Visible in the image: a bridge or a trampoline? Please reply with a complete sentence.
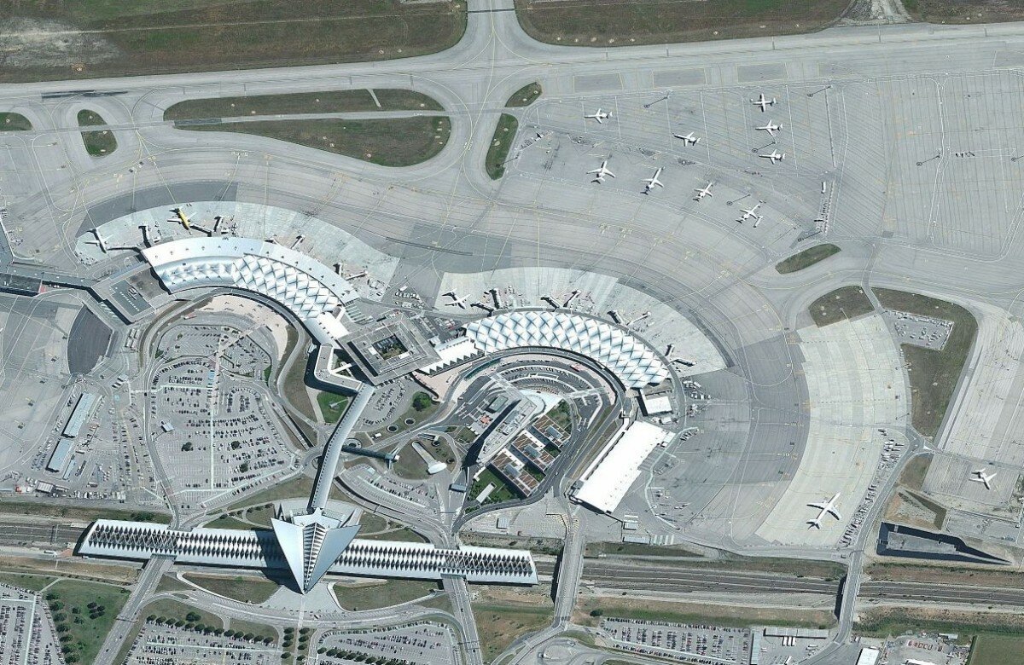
Looking from above, you can make out a bridge.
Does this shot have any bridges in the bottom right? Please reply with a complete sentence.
Yes, a bridge shows up in the bottom right.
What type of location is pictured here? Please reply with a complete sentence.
The area seen from above is an airport.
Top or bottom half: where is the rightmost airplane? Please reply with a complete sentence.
The bottom half of the photo is where the rightmost airplane is.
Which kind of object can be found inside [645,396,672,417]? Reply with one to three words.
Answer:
building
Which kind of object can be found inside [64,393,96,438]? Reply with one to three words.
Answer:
building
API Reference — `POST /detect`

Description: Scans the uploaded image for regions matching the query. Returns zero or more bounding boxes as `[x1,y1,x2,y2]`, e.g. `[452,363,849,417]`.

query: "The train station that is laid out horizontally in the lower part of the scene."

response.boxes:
[77,520,538,584]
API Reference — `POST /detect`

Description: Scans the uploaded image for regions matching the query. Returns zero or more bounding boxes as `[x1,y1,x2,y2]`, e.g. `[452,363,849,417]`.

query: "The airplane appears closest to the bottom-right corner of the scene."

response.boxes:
[971,467,994,489]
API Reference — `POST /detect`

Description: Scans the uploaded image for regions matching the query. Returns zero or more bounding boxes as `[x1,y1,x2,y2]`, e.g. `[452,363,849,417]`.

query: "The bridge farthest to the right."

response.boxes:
[797,546,865,665]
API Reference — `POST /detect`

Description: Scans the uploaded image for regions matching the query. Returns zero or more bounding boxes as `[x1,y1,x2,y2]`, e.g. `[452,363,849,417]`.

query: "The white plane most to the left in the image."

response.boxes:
[86,226,110,252]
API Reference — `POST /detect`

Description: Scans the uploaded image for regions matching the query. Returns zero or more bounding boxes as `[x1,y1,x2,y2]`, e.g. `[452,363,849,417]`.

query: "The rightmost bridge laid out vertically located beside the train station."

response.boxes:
[553,522,584,617]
